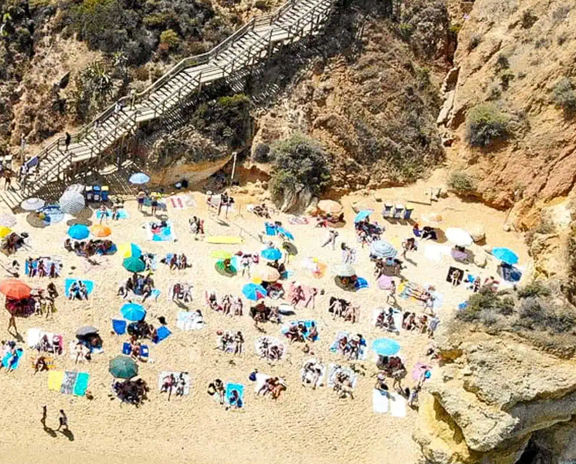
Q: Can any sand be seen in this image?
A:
Yes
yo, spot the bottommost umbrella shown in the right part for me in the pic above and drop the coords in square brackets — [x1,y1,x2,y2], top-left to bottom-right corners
[359,338,404,379]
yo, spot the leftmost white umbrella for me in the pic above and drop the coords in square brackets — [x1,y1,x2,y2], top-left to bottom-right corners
[0,216,18,231]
